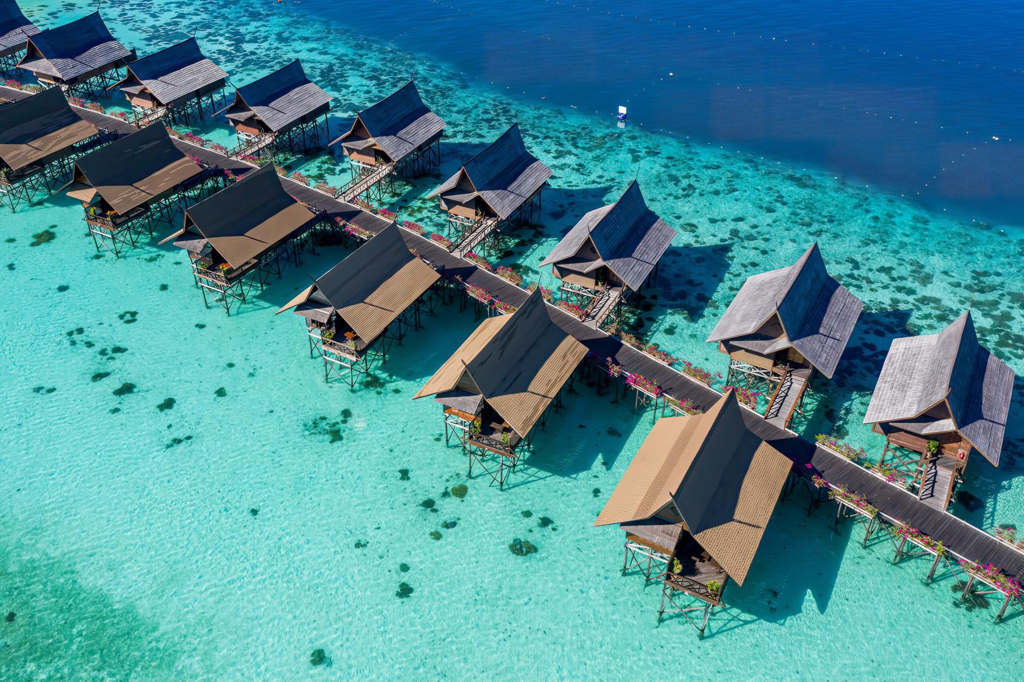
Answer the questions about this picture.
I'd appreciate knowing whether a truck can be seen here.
No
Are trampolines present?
No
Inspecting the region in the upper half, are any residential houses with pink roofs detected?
No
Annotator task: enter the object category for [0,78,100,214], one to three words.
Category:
house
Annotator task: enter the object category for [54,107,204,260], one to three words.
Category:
house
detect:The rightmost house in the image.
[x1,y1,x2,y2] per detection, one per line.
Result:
[859,293,1017,512]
